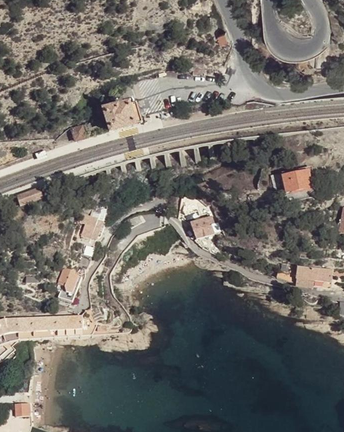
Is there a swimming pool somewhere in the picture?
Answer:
No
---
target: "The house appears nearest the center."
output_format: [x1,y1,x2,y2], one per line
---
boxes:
[185,212,222,242]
